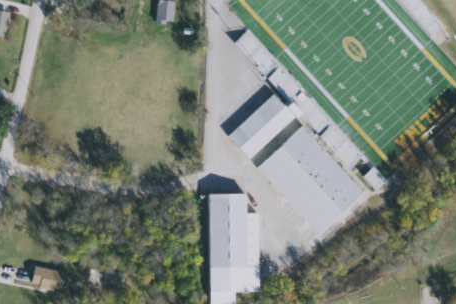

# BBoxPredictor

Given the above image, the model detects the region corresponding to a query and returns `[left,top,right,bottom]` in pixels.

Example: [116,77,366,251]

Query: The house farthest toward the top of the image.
[156,0,176,24]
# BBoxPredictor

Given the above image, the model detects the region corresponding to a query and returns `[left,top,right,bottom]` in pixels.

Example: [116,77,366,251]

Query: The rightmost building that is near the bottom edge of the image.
[209,194,260,304]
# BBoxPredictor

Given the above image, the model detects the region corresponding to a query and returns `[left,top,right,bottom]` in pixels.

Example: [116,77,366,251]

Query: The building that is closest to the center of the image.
[230,94,296,159]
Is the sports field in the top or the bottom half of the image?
top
